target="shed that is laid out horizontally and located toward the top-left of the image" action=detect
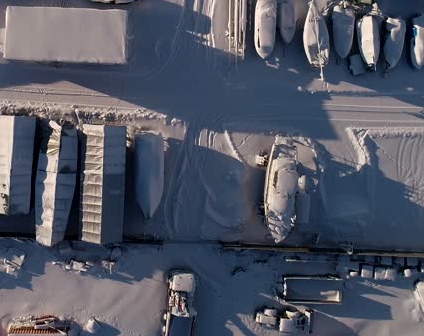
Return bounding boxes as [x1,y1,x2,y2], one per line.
[4,5,128,66]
